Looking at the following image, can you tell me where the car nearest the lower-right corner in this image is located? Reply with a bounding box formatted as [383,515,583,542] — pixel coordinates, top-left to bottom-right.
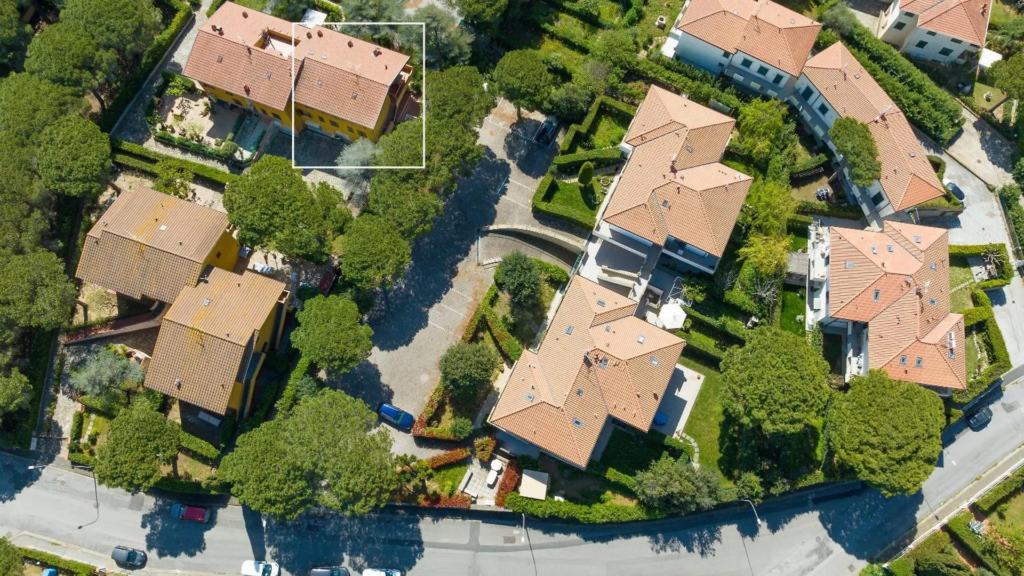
[962,407,995,431]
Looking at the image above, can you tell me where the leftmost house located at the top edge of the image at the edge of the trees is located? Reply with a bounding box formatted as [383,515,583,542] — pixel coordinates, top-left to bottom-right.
[182,0,314,133]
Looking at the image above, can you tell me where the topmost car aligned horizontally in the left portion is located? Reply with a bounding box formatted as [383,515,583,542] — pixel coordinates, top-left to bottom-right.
[172,503,211,523]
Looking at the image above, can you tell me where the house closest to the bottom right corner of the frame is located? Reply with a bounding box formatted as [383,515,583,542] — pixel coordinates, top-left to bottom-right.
[802,219,967,395]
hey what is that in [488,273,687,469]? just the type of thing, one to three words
house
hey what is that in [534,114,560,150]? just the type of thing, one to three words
truck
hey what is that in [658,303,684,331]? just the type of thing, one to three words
umbrella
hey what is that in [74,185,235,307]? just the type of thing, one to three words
house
